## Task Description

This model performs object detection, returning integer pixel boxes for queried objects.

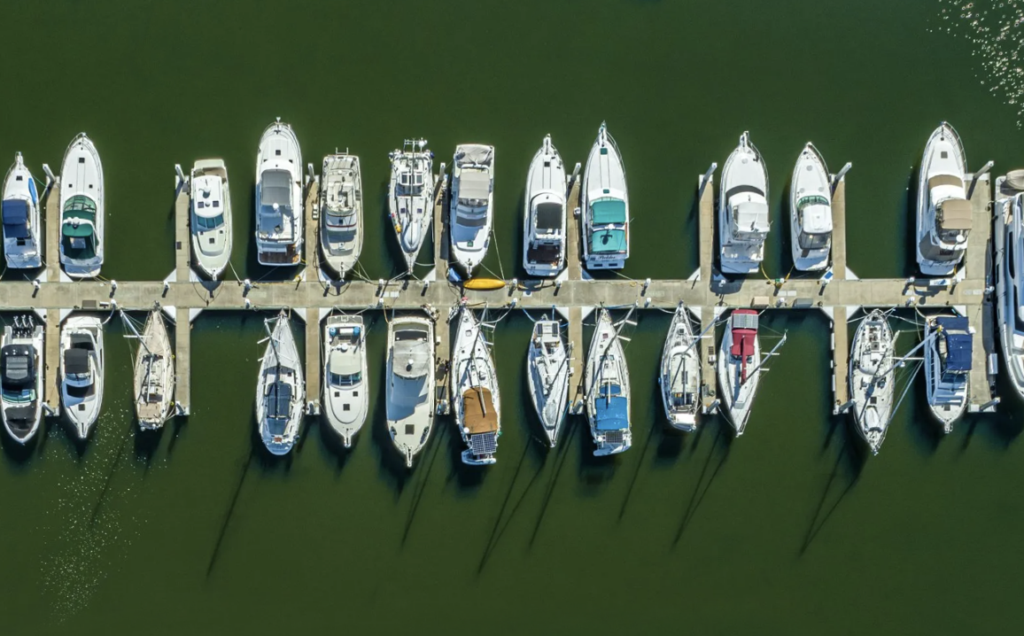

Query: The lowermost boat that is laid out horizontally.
[458,450,498,465]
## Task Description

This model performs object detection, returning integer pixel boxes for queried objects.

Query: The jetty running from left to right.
[0,173,996,416]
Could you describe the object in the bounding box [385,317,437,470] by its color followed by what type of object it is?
white boat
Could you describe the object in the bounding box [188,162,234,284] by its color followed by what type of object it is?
white boat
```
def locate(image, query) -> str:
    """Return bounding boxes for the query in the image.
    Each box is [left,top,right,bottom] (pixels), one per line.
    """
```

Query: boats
[448,302,498,458]
[714,130,771,276]
[0,316,48,443]
[911,116,972,277]
[527,315,576,451]
[2,148,46,271]
[385,317,437,470]
[447,144,497,281]
[788,139,834,275]
[661,300,720,429]
[318,147,365,281]
[464,278,506,289]
[389,137,434,278]
[119,305,174,431]
[586,302,639,457]
[921,317,974,436]
[253,116,304,269]
[520,129,567,278]
[323,316,374,447]
[852,312,942,457]
[61,320,109,443]
[580,119,633,272]
[59,128,109,280]
[255,306,305,456]
[188,162,234,284]
[993,178,1024,415]
[720,309,788,438]
[458,450,498,465]
[1000,170,1024,189]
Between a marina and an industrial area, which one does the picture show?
marina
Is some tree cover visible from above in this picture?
No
